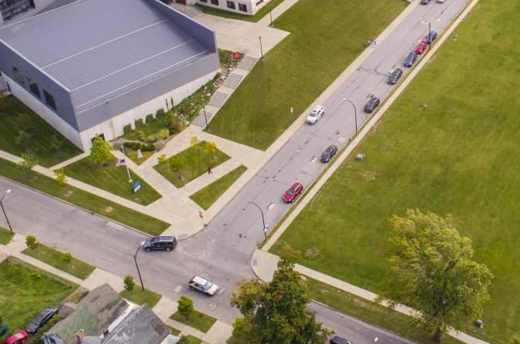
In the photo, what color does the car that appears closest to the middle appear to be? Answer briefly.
red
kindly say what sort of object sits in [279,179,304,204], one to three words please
car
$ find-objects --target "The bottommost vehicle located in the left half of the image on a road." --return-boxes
[188,273,222,298]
